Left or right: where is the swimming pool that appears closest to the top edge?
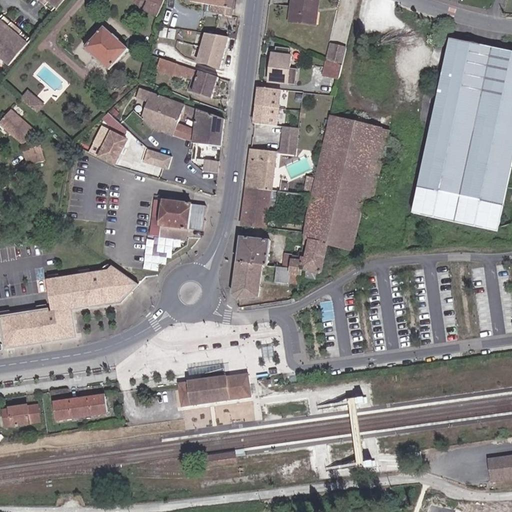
left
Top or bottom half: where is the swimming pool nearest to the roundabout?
top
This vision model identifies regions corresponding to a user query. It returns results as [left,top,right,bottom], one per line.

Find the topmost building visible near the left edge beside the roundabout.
[0,266,138,348]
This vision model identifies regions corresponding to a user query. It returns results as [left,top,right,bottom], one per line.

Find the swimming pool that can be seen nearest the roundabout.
[274,150,313,188]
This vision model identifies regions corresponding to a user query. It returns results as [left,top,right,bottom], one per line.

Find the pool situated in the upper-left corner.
[34,62,70,104]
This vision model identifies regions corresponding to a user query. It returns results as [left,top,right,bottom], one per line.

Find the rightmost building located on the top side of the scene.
[411,38,512,232]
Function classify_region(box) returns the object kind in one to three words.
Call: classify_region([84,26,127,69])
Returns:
house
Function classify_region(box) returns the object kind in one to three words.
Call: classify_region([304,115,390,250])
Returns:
barn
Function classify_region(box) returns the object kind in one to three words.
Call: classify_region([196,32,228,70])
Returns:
house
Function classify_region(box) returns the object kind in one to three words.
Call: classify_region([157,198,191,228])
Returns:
building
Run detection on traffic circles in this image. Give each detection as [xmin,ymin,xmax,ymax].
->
[160,256,222,322]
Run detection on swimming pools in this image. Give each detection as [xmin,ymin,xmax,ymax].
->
[274,150,313,188]
[34,62,70,104]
